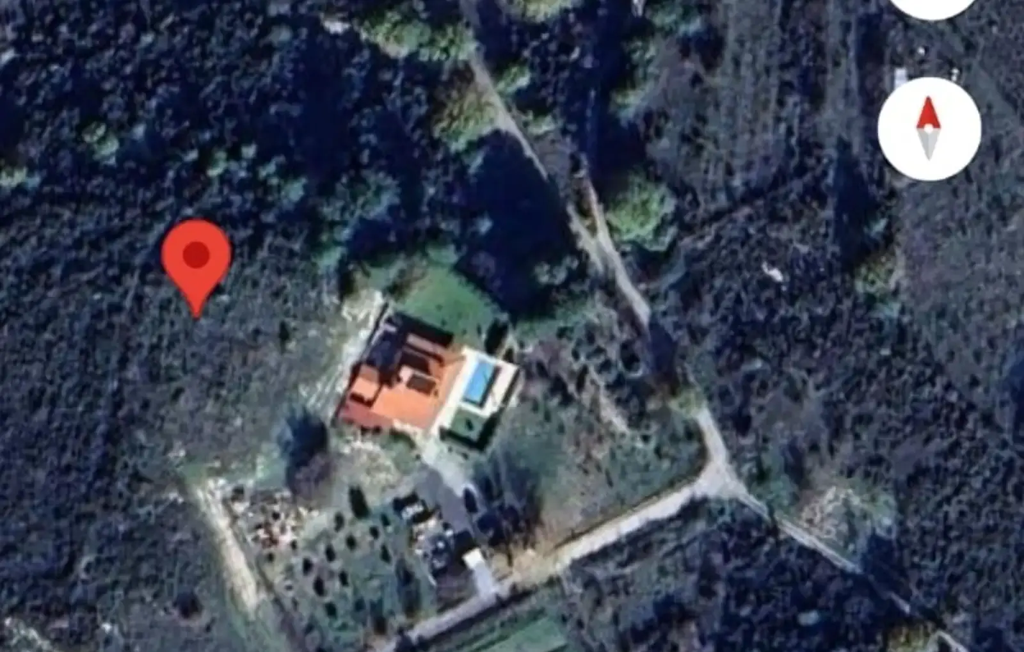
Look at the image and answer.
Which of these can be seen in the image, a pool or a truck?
pool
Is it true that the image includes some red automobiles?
No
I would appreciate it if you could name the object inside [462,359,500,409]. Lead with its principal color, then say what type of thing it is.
blue swimming pool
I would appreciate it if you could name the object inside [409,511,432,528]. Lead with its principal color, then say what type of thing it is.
black car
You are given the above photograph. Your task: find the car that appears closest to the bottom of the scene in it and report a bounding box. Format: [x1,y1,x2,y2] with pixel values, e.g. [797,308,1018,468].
[436,537,452,561]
